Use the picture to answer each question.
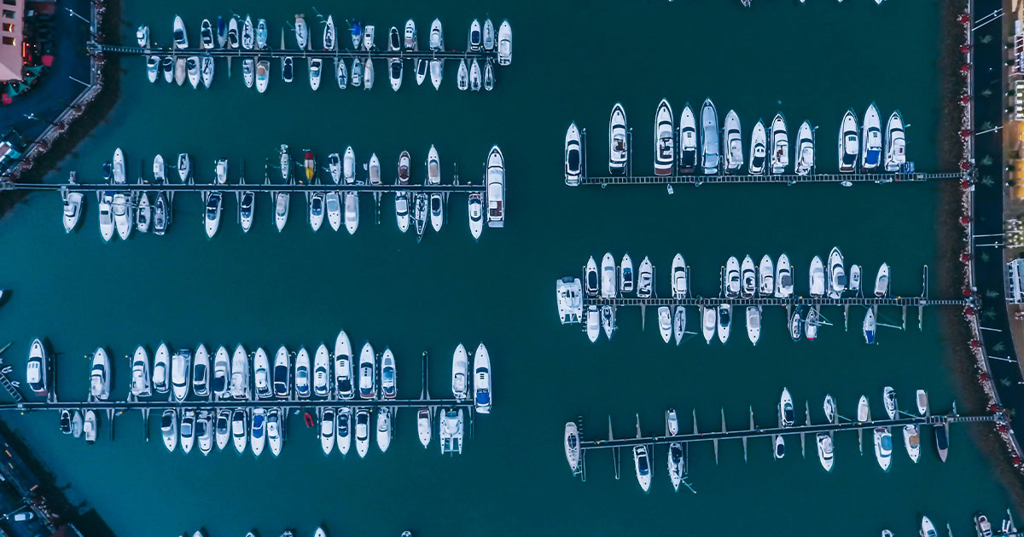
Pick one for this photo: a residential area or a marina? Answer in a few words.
marina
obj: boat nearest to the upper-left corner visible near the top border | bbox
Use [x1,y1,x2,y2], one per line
[137,22,151,47]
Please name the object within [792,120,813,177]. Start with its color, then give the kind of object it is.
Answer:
white boat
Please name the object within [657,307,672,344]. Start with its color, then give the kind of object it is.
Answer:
white boat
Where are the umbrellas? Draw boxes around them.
[3,94,16,103]
[43,56,56,65]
